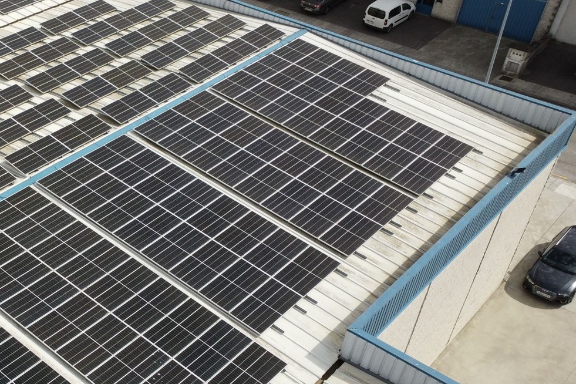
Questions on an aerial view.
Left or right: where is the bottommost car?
right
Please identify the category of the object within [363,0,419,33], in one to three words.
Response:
van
